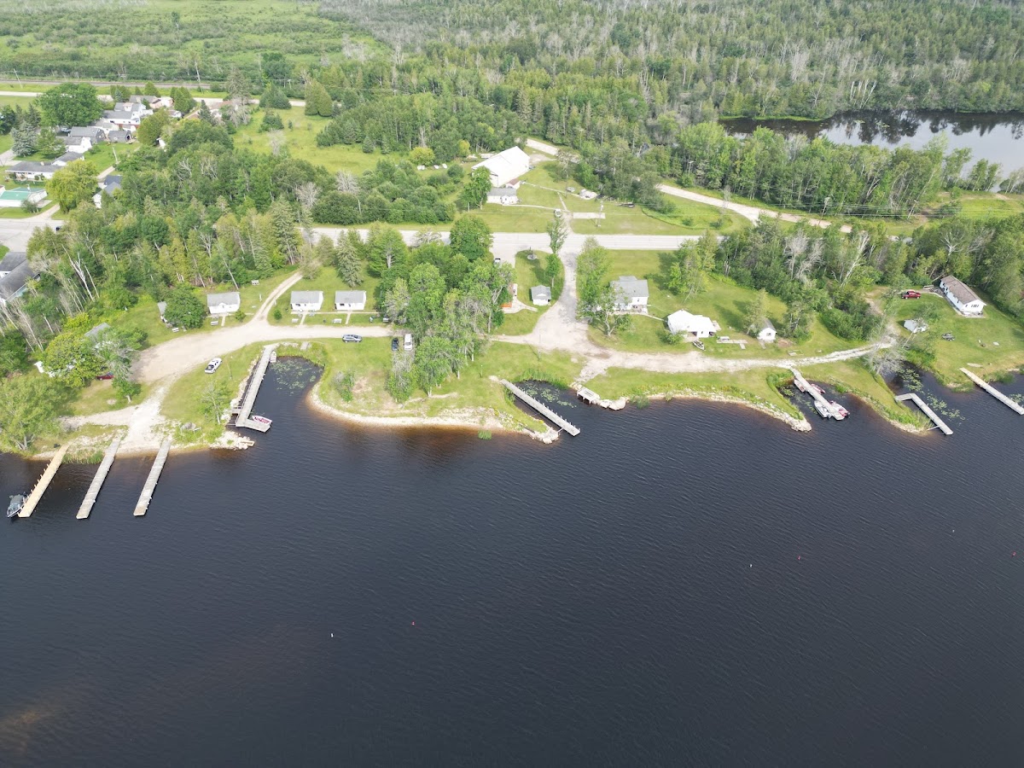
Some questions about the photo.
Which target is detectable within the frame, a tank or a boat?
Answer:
boat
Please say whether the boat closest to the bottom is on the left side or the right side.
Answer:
left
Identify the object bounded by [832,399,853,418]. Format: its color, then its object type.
white boat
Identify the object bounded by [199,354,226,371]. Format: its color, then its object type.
white vehicle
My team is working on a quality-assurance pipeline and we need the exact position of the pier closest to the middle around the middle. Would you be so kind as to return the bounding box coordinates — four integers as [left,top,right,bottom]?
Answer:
[504,378,578,434]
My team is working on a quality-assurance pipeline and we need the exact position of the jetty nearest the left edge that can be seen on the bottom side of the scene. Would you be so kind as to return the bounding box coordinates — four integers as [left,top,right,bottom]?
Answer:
[17,452,68,518]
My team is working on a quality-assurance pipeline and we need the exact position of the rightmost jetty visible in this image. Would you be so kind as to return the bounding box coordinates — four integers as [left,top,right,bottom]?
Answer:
[975,380,1024,415]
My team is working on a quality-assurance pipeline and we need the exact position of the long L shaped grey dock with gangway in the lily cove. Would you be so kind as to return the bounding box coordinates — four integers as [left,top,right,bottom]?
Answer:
[231,346,273,432]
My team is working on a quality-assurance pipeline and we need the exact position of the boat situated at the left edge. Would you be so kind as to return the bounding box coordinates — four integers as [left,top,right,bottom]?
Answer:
[7,492,28,518]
